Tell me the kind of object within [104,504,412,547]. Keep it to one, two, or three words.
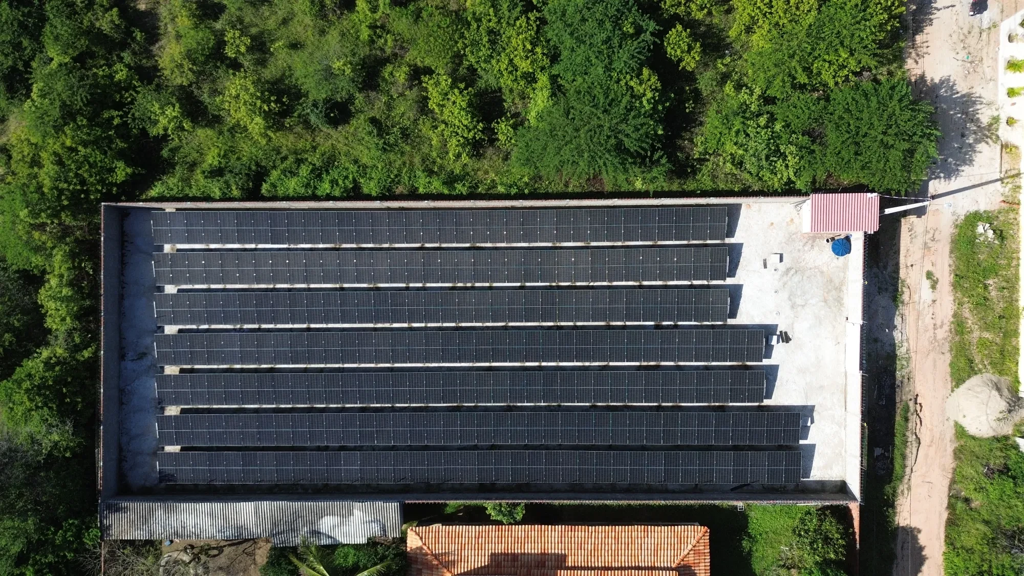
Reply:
shed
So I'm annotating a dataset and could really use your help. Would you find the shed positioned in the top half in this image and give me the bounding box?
[802,193,879,236]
